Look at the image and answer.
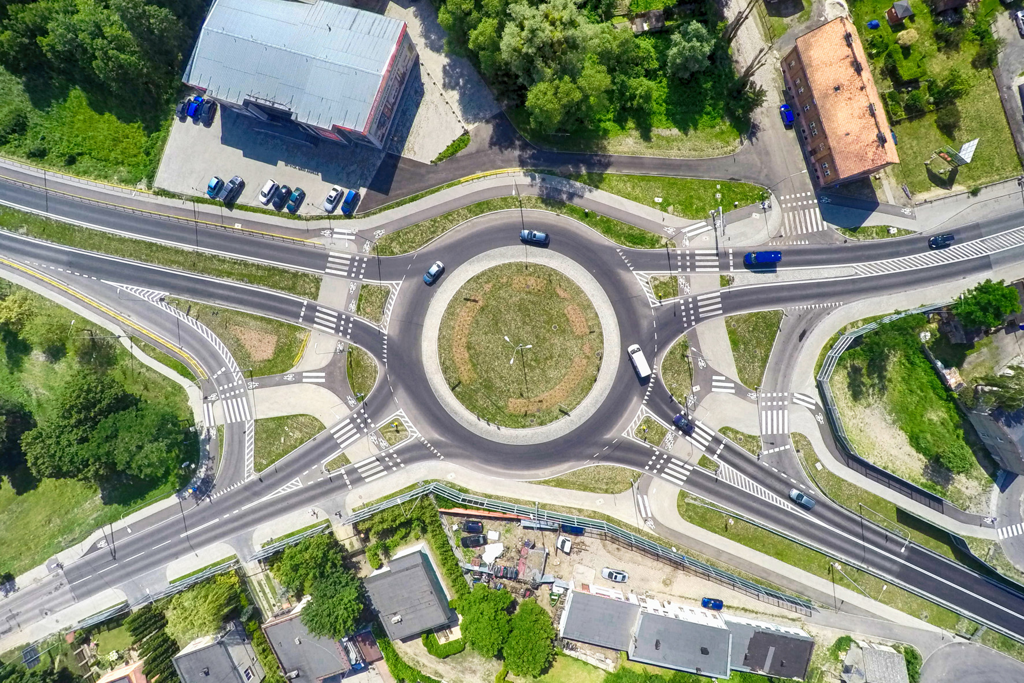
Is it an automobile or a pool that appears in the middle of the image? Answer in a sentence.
What appears in the middle of the image is an automobile.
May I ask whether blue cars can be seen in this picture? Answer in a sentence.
Yes, a blue car can be made out from above.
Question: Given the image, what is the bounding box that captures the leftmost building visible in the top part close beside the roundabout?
[180,0,421,165]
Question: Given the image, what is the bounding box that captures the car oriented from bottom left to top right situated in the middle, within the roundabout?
[423,259,446,286]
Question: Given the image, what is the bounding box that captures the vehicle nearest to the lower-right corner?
[786,487,818,510]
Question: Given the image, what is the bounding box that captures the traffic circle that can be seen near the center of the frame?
[391,212,655,477]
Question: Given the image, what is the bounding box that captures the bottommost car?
[699,596,723,611]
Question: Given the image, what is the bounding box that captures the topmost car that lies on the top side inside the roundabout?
[520,230,550,245]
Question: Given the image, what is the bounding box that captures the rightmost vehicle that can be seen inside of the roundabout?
[629,345,651,378]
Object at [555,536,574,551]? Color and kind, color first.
white car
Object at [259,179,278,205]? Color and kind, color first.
white car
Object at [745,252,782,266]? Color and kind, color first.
blue vehicle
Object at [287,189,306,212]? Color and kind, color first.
blue car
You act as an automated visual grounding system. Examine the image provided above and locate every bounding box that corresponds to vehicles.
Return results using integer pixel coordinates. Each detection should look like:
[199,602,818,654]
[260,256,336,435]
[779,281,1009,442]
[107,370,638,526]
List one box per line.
[629,345,651,378]
[324,184,344,213]
[699,596,723,611]
[423,259,446,286]
[199,97,218,127]
[560,521,586,535]
[461,533,489,548]
[745,252,782,266]
[460,520,484,533]
[287,189,306,212]
[341,188,360,214]
[923,233,958,249]
[207,175,225,198]
[600,566,629,582]
[520,230,550,245]
[786,487,818,510]
[174,95,190,122]
[220,174,244,205]
[186,95,204,122]
[670,411,698,437]
[259,179,278,205]
[555,536,574,551]
[273,184,293,212]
